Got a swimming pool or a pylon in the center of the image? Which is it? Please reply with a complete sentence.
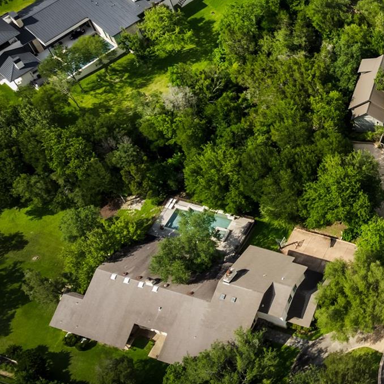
You can see a swimming pool in the center of the image.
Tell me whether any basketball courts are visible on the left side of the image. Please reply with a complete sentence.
No, there is no basketball court on the left side of the image.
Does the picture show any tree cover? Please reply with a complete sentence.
Yes, the picture does contain tree cover.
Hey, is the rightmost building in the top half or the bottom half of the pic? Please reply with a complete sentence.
The top half of the photo is where the rightmost building is.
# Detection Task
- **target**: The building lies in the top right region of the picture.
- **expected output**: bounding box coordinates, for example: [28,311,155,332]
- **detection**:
[349,54,384,130]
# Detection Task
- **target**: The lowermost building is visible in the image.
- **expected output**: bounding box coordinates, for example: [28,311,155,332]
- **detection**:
[50,238,330,369]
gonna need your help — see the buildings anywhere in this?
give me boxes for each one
[349,54,384,130]
[50,238,330,369]
[0,0,181,92]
